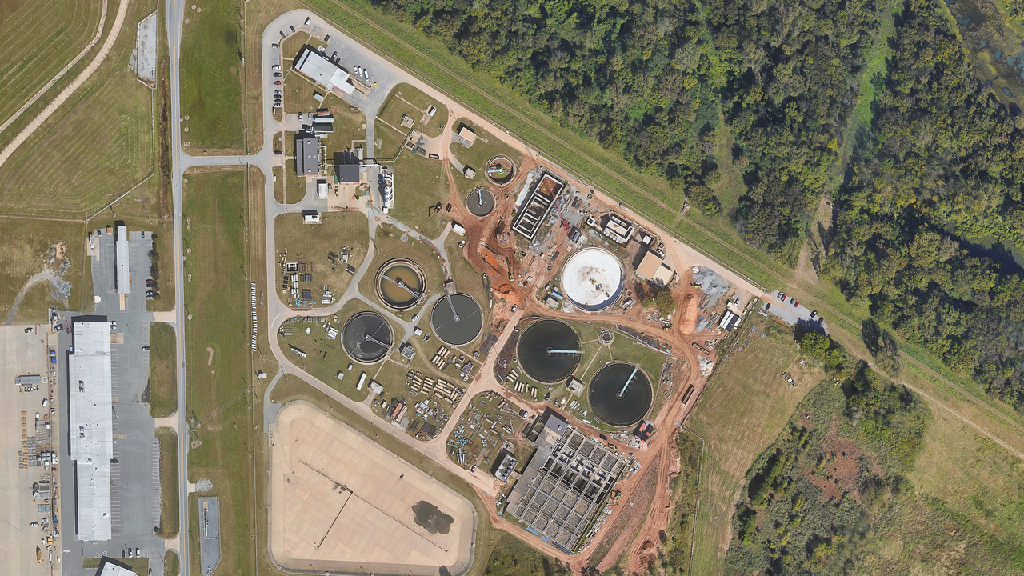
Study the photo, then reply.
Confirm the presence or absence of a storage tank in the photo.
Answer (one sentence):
Yes, looking at the shot, I can spot a storage tank.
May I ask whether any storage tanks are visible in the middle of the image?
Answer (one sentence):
Yes, in the middle of the image there is a storage tank.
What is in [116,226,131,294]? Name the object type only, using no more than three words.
building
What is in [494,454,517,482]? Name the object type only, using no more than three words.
building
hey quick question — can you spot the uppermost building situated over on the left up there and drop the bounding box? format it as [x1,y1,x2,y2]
[295,46,355,95]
